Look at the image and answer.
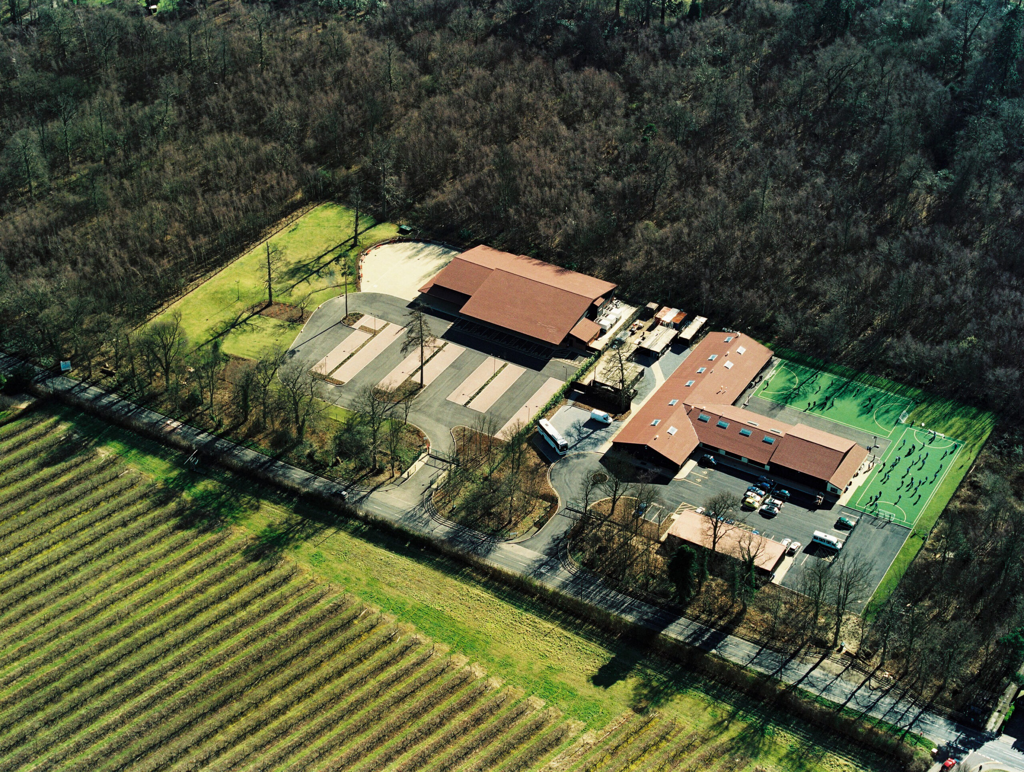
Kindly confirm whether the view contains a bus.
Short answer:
Yes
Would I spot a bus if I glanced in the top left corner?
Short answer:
No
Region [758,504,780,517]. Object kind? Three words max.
vehicle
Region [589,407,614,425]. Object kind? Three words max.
vehicle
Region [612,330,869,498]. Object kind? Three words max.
building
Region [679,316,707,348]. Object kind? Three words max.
shed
